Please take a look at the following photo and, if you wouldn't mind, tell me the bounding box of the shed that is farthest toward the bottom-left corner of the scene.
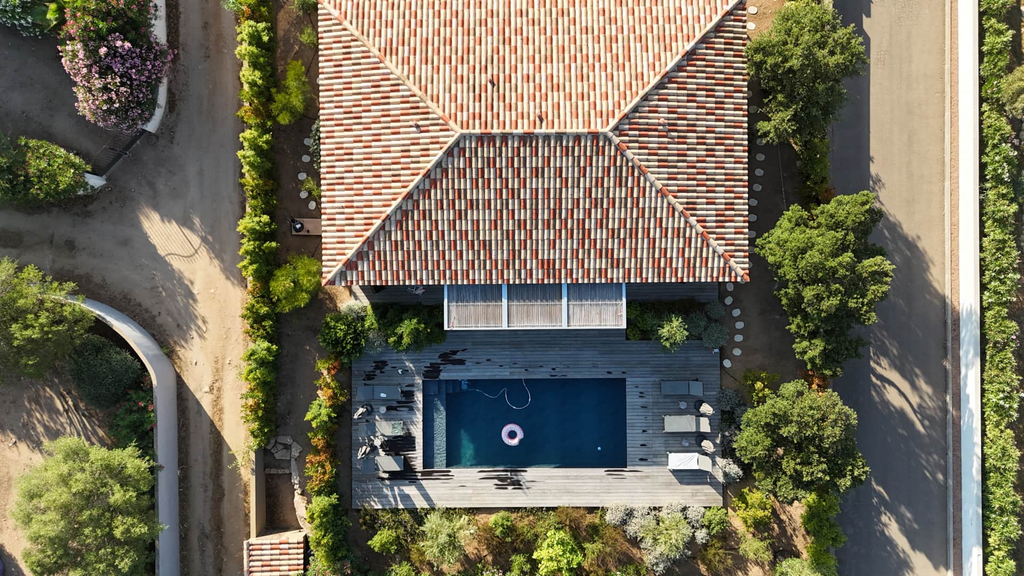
[241,524,318,576]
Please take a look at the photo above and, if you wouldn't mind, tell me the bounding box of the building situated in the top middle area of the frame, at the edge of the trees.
[319,0,752,285]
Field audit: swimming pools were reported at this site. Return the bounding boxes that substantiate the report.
[423,379,626,468]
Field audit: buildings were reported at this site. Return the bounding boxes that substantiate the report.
[319,0,752,285]
[241,524,318,576]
